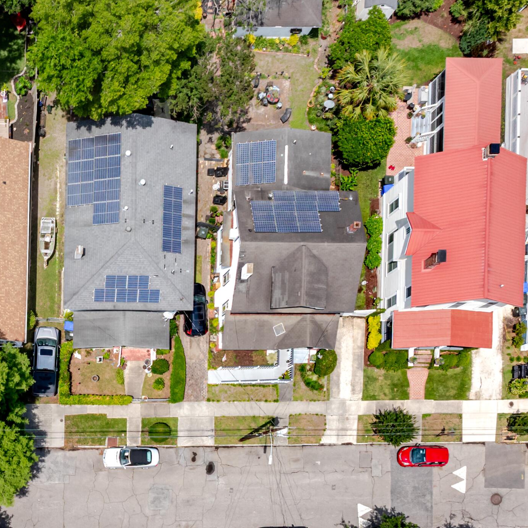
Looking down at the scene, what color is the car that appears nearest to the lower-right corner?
red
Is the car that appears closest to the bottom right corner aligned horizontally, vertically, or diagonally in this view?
horizontally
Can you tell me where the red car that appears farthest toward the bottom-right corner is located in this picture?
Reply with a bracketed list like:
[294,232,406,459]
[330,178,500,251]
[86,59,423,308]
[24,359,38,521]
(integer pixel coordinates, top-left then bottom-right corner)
[399,442,456,469]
